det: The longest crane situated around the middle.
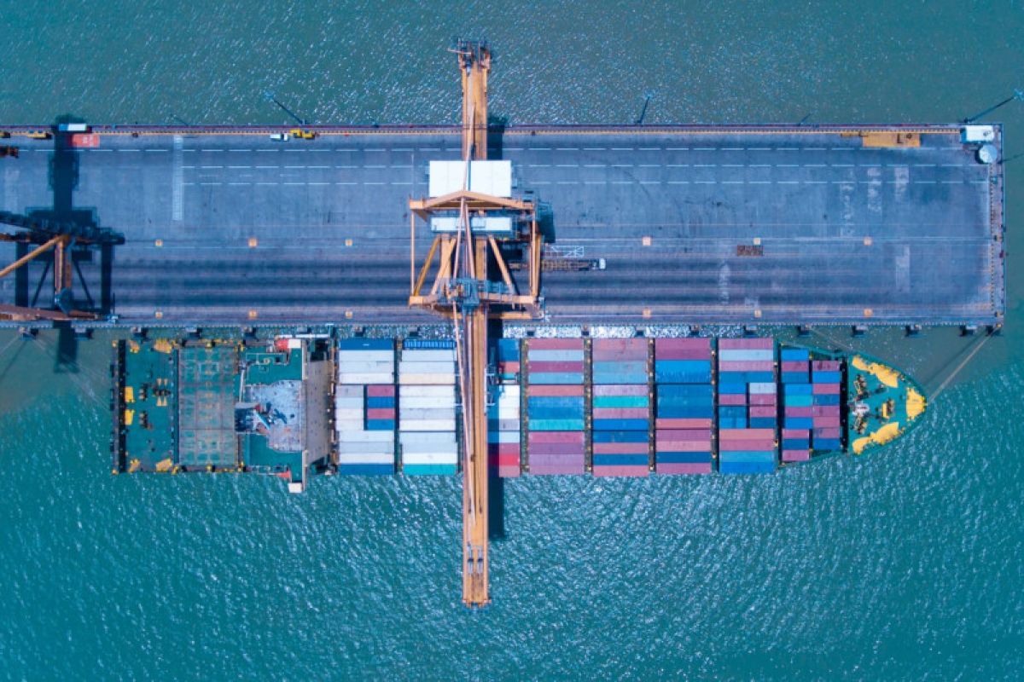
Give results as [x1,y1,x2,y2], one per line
[410,31,556,610]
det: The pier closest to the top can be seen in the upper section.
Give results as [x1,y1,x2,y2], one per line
[0,124,1005,333]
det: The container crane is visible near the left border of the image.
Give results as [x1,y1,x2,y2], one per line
[0,201,124,321]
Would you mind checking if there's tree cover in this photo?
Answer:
No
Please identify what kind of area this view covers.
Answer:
port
